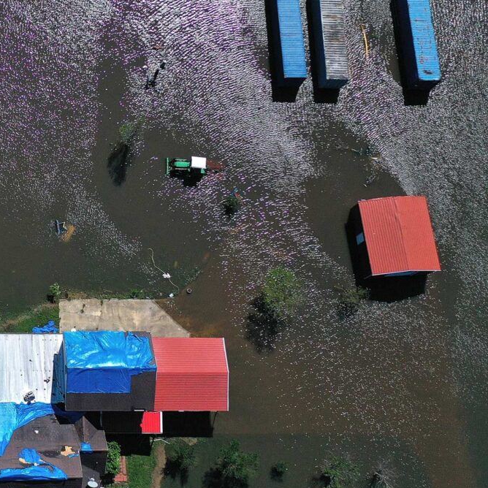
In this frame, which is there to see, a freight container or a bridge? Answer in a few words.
freight container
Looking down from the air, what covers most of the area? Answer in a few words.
water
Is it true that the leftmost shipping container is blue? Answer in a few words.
Yes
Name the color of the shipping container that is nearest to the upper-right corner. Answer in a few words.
blue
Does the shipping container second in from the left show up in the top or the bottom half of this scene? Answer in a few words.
top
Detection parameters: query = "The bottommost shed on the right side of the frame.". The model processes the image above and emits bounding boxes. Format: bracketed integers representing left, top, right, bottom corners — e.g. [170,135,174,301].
[350,196,441,282]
